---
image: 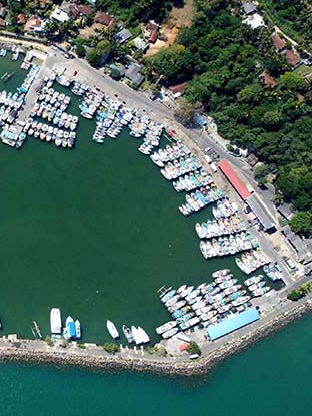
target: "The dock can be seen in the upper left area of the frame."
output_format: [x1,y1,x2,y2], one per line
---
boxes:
[10,61,56,140]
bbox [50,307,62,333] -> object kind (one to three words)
boat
